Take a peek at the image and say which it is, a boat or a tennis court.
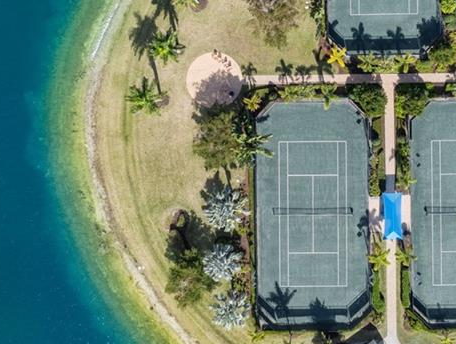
tennis court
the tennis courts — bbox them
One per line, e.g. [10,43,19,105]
[410,100,456,320]
[256,100,370,321]
[327,0,441,52]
